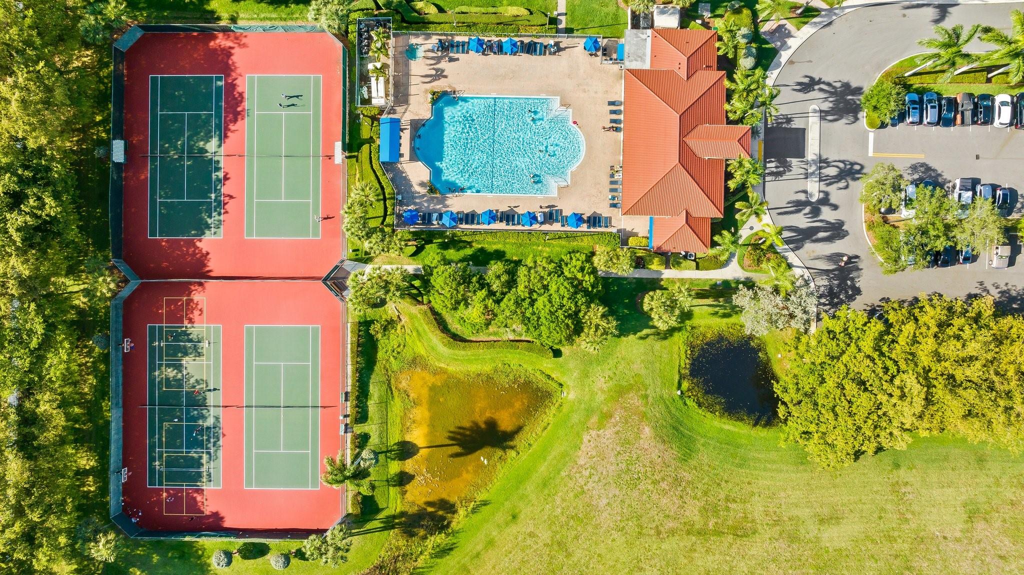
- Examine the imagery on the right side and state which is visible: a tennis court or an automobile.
automobile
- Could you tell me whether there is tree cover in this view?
Yes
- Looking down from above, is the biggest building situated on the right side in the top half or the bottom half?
top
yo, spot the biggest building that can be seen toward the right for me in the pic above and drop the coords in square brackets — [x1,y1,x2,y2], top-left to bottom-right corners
[620,28,752,253]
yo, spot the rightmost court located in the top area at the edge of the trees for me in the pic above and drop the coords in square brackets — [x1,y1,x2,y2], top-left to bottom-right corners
[233,75,329,238]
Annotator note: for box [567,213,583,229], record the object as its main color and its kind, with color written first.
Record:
blue umbrella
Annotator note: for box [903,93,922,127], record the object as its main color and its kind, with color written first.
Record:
blue car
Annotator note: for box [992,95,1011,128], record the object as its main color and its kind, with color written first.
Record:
white car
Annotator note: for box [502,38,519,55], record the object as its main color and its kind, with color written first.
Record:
blue umbrella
